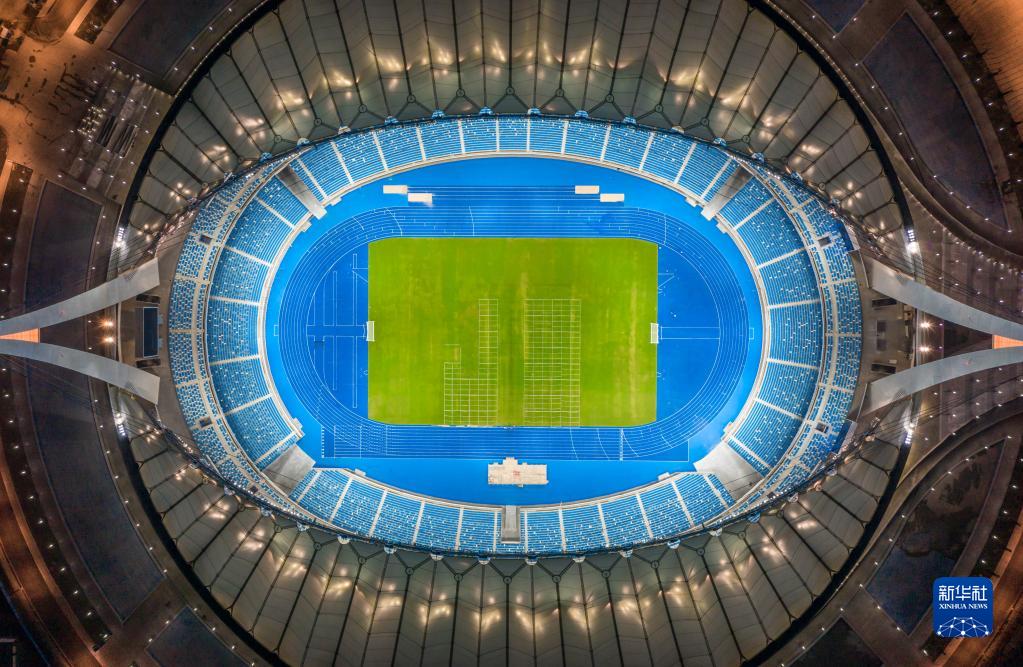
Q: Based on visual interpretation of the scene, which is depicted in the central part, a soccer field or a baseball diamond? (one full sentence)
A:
Visible in the central part is a soccer field.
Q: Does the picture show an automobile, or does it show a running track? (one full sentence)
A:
Visible in the photo is a running track.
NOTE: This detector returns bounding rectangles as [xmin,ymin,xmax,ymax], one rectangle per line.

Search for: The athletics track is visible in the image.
[267,158,762,505]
